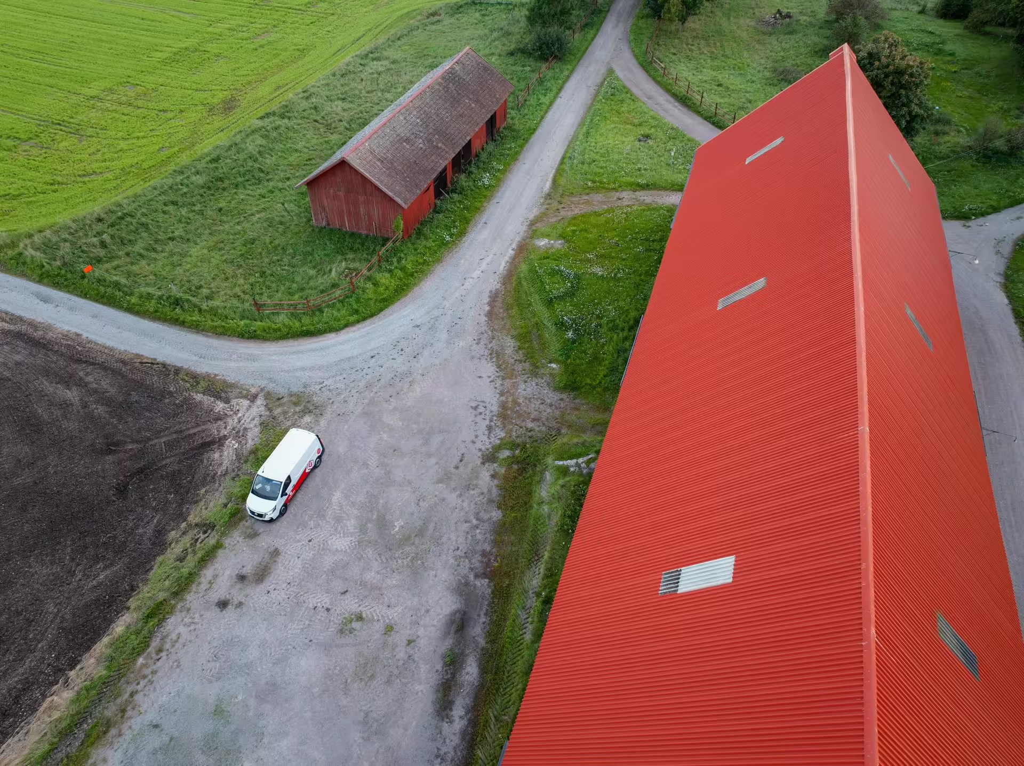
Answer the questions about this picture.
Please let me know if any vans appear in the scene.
Yes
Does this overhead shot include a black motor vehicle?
No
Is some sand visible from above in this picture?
No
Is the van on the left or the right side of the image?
left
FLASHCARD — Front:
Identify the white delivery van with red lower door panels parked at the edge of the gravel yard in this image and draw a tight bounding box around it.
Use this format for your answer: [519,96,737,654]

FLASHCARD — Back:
[242,426,326,526]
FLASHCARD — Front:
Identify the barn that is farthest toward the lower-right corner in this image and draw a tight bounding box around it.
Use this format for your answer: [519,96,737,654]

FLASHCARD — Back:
[498,40,1024,766]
